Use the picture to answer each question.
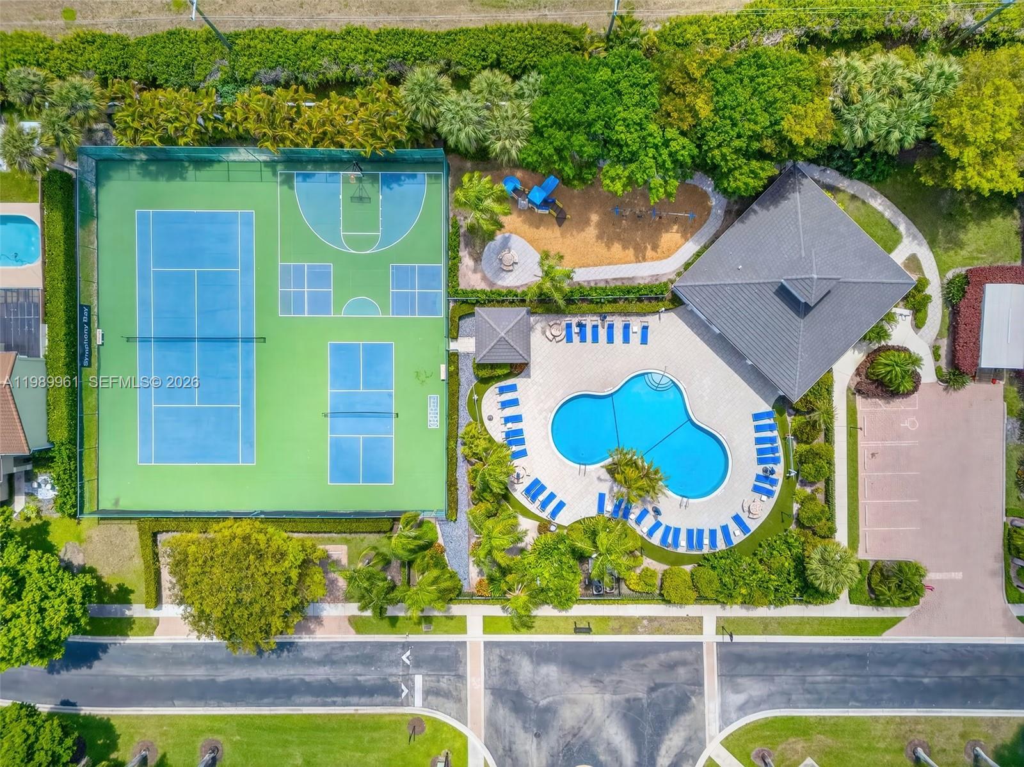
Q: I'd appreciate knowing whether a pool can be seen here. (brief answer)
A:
Yes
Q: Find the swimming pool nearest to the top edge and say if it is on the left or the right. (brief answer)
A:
left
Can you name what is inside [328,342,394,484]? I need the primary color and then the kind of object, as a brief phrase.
blue sports court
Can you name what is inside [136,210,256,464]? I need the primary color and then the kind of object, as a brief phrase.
blue tennis court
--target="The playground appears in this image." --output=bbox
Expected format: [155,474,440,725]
[503,171,570,226]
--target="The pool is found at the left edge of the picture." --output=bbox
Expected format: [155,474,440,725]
[0,212,42,269]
